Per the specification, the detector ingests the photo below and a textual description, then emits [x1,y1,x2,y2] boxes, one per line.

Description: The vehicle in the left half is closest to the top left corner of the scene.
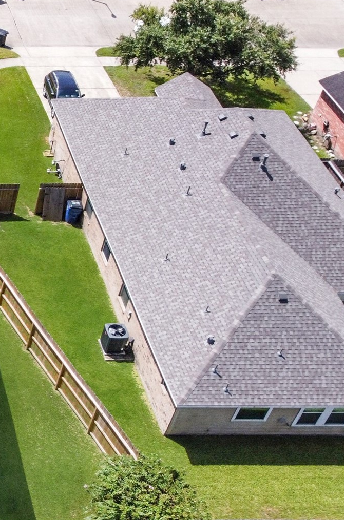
[40,59,84,99]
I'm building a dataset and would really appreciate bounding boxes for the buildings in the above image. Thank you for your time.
[50,70,344,439]
[314,71,344,161]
